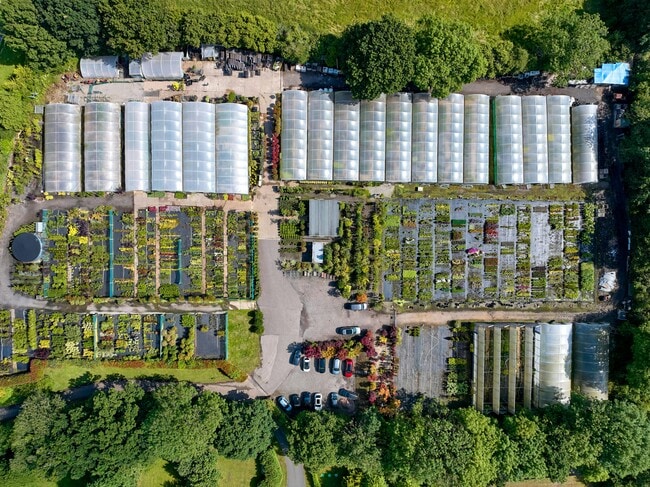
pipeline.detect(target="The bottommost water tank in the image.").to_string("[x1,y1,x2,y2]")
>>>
[6,232,45,264]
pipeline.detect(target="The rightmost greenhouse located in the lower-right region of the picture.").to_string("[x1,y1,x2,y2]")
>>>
[574,324,611,407]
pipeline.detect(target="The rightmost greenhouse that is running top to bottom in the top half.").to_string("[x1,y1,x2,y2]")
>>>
[573,102,601,184]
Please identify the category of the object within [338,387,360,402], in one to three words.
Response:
car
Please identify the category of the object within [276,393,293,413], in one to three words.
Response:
car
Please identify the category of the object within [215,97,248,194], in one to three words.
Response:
greenhouse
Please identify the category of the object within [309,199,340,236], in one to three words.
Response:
shed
